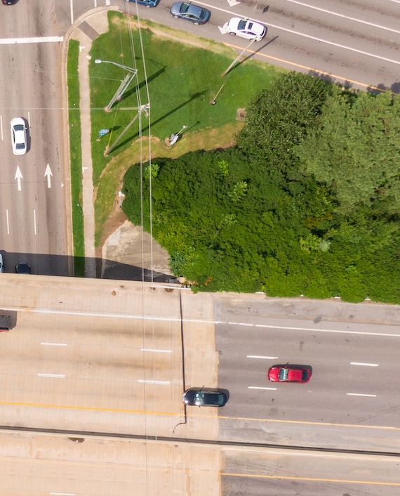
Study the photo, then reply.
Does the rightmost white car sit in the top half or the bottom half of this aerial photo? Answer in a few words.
top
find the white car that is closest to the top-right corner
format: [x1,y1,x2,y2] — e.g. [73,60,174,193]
[226,16,265,40]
